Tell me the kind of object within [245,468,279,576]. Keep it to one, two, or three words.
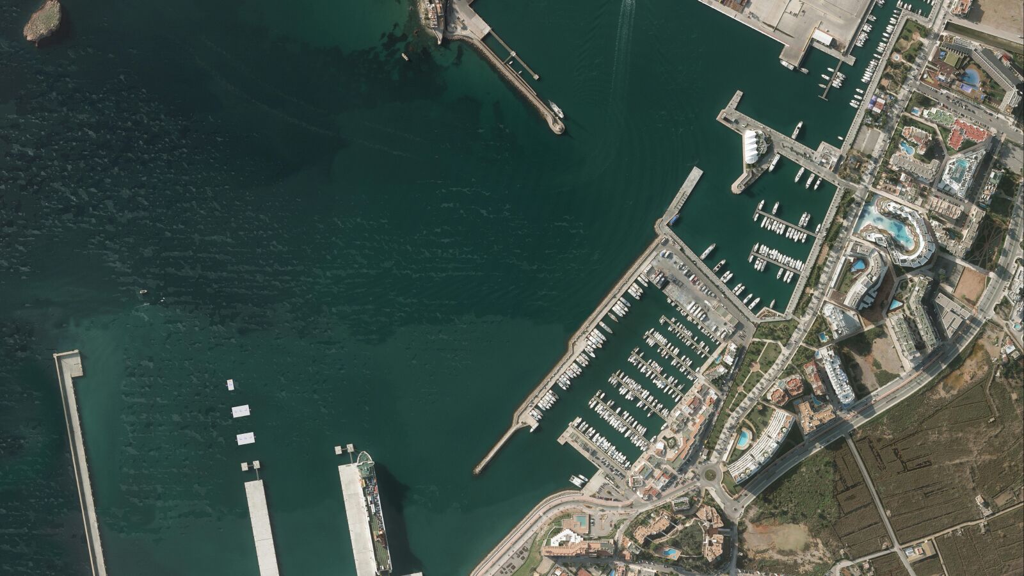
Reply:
pier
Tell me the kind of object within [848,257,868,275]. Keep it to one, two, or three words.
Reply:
swimming pool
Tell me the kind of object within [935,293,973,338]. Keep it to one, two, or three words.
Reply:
building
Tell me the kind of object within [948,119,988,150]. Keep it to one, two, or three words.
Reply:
building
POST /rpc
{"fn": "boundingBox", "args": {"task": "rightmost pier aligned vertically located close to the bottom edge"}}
[339,452,376,576]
